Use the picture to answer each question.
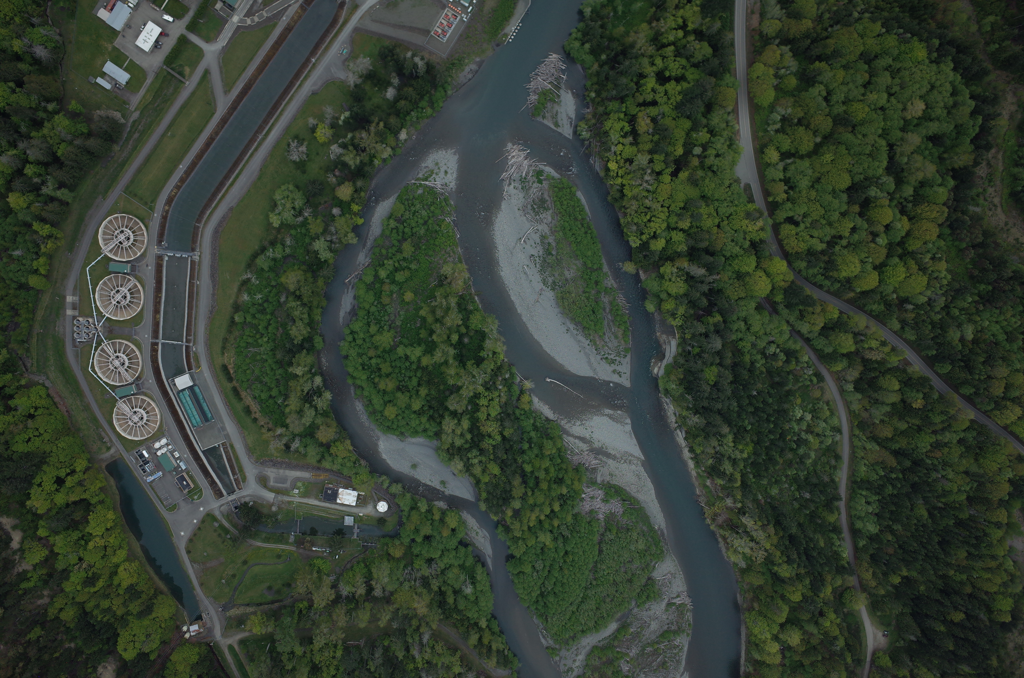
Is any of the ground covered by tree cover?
Yes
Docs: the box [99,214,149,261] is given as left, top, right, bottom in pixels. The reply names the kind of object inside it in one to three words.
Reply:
storage tank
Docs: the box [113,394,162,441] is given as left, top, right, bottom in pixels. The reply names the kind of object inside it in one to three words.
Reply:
storage tank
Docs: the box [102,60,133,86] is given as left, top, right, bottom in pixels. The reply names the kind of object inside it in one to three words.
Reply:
house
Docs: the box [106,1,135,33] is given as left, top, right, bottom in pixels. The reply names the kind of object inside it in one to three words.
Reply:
building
